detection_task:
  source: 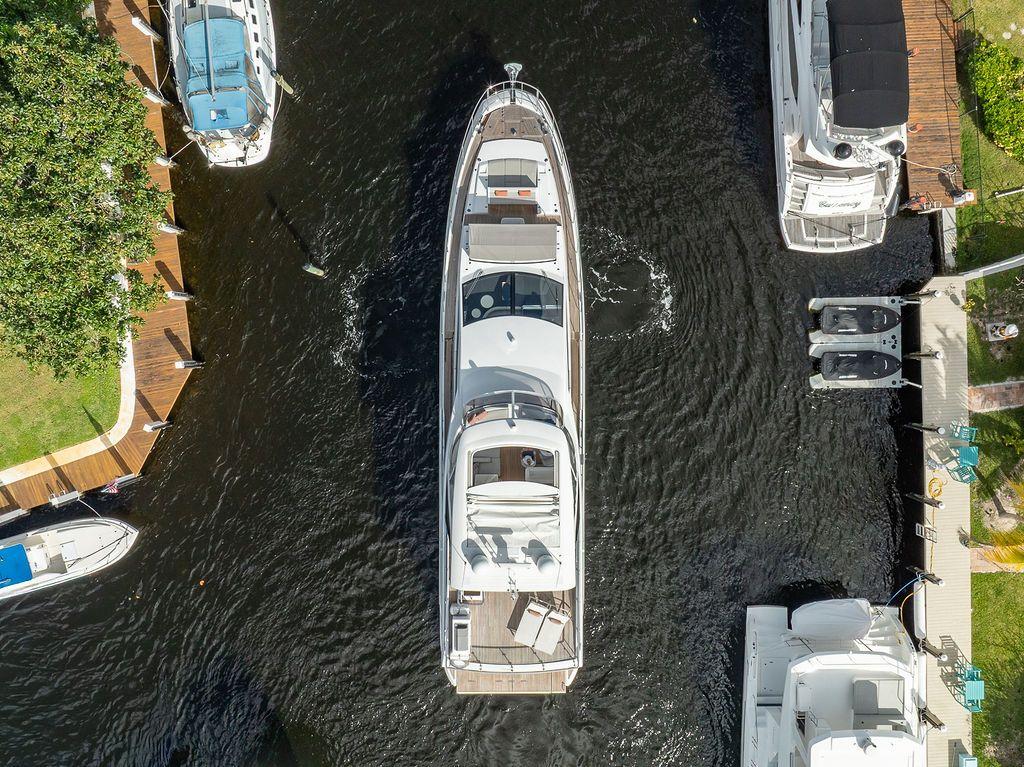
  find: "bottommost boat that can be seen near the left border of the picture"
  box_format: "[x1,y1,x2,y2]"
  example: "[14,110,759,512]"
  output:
[0,515,141,599]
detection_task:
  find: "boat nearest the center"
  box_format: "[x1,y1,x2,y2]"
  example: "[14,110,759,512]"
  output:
[439,64,586,694]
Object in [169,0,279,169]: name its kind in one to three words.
boat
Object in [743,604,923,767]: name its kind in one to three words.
boat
